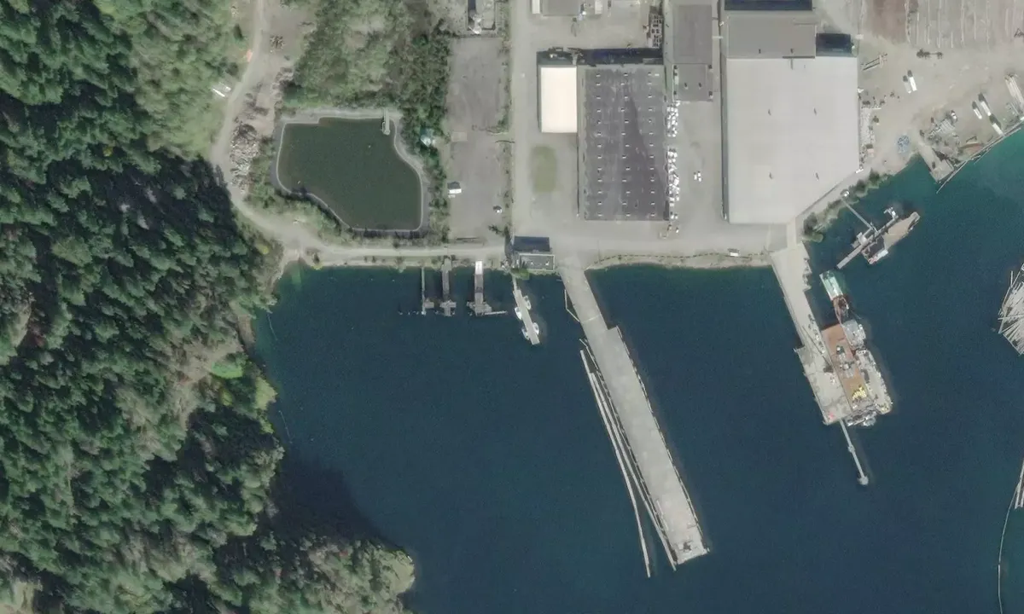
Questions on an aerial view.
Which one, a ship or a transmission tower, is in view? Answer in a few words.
ship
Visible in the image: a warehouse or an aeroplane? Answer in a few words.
warehouse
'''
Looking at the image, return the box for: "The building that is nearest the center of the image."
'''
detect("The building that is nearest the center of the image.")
[516,247,554,271]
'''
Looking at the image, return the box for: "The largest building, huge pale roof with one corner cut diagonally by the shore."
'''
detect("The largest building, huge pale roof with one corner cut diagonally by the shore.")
[722,13,859,224]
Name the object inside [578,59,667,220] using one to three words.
building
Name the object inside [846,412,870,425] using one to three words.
boat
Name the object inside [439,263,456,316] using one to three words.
pier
